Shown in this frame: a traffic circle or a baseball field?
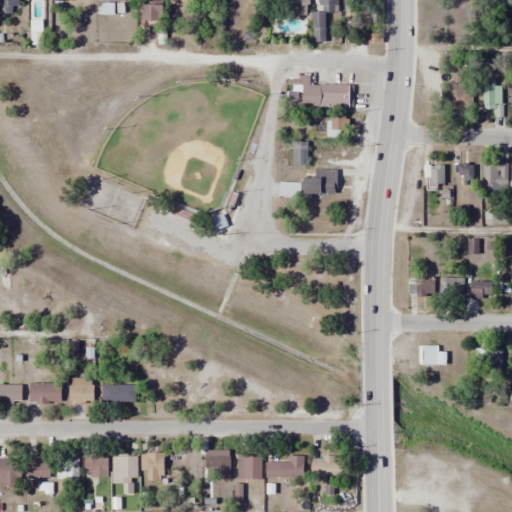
baseball field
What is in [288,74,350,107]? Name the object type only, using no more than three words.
building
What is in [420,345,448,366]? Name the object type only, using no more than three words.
building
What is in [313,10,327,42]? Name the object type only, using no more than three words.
house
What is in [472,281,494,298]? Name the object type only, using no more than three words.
house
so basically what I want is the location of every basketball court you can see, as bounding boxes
[90,182,146,228]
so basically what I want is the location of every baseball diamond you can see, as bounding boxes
[95,82,264,210]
